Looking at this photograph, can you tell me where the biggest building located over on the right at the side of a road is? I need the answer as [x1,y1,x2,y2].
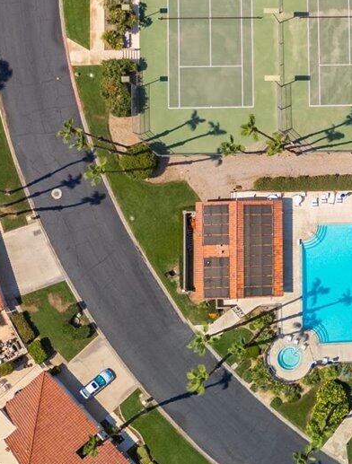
[195,200,283,299]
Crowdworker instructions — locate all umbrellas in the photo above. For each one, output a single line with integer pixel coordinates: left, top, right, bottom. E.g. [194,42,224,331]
[269,191,279,200]
[293,195,305,207]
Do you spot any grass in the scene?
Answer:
Yes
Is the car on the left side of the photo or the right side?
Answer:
left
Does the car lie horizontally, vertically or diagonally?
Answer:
diagonally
